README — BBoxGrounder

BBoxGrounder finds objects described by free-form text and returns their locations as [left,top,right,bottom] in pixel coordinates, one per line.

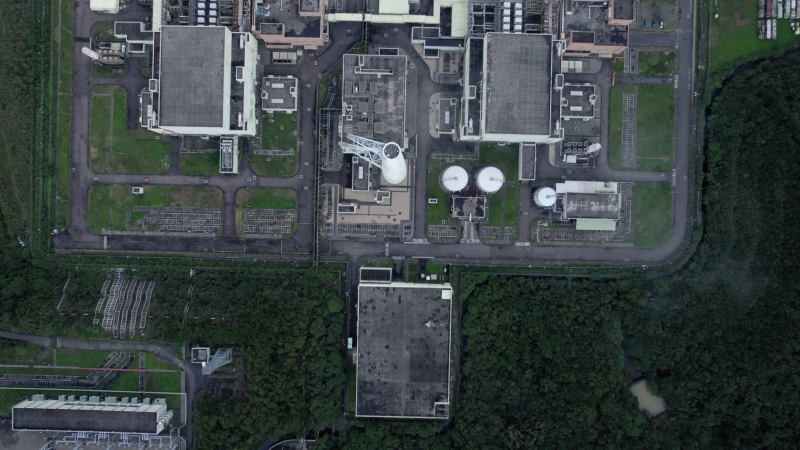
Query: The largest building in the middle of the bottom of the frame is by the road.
[353,283,452,418]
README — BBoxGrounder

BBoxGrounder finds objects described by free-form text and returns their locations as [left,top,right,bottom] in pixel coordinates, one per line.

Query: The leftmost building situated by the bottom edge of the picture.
[12,400,167,433]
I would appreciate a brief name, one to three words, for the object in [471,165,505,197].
storage tank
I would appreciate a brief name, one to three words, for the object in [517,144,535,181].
building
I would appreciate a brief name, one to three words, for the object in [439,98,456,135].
building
